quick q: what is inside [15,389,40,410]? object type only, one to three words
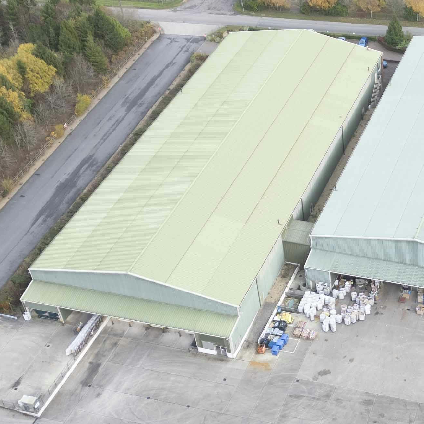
building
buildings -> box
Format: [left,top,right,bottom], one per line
[302,34,424,306]
[20,25,384,359]
[15,389,40,410]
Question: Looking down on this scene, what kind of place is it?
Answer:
industrial area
